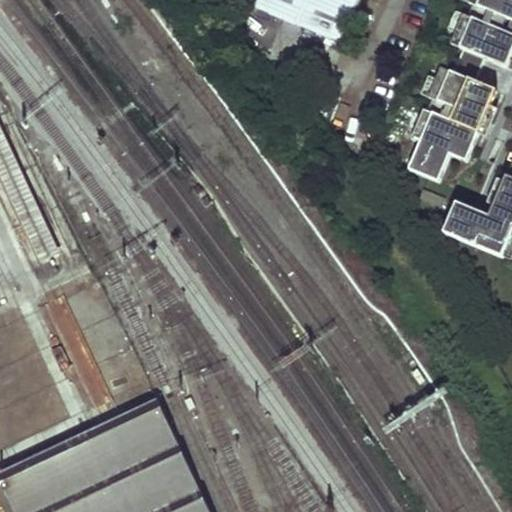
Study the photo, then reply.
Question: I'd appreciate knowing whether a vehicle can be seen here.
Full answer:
Yes, looking at the shot, I can spot a vehicle.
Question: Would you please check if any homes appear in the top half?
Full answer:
Yes, a home shows up in the top half.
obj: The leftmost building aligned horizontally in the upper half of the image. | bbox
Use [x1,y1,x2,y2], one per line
[255,0,356,44]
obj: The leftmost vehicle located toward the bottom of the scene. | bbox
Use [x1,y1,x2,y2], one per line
[49,335,72,371]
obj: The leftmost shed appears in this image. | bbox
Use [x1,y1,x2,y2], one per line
[0,130,57,258]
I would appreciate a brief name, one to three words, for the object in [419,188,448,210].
shed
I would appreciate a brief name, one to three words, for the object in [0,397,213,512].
shed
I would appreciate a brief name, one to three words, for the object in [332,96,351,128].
vehicle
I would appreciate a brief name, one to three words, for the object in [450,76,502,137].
house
